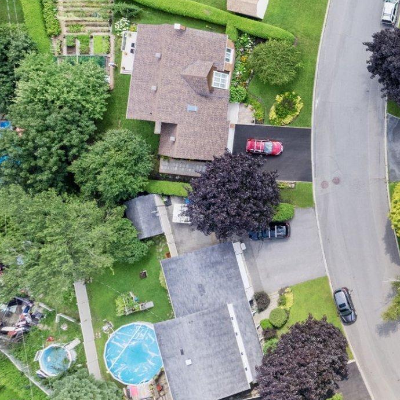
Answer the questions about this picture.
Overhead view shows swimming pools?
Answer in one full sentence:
Yes, I can see a swimming pool in this picture.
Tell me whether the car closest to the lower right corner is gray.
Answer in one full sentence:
Yes, the car closest to the lower right corner is indeed gray.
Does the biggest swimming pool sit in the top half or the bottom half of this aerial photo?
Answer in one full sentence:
It is in the bottom half that the biggest swimming pool appears.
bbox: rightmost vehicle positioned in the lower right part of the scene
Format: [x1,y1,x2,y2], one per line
[334,285,358,324]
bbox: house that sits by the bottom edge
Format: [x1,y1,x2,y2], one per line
[153,241,278,400]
